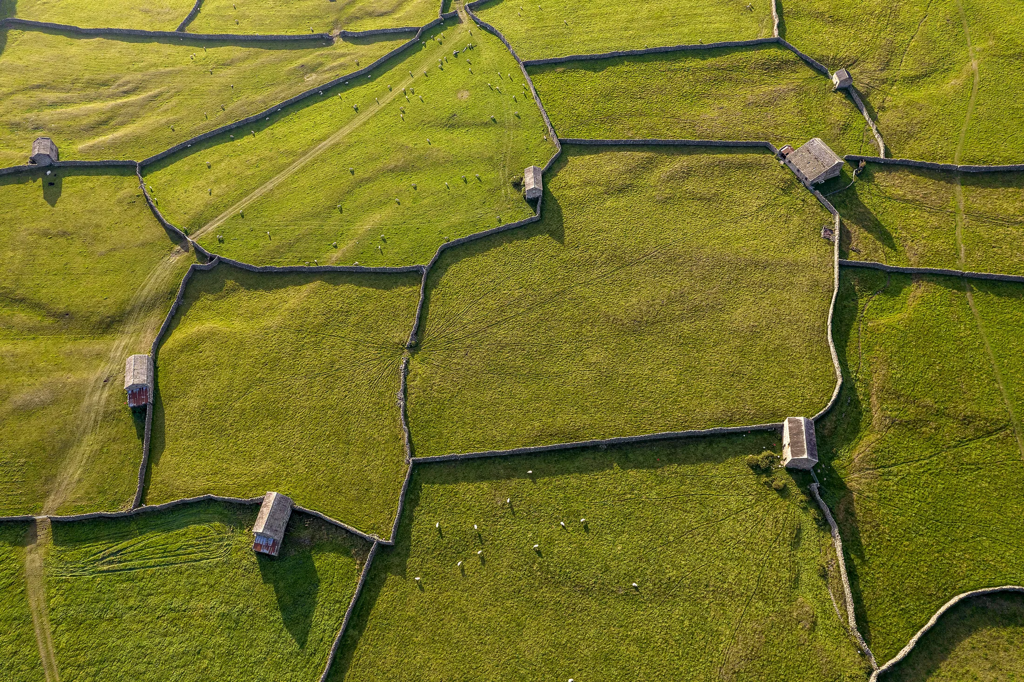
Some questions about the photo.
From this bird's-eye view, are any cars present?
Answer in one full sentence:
No, I find no car anywhere in the image.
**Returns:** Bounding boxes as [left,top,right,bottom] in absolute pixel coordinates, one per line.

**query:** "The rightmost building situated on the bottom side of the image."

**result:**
[782,415,819,470]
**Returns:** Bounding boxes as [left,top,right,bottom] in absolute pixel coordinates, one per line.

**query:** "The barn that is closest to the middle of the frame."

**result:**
[524,165,543,198]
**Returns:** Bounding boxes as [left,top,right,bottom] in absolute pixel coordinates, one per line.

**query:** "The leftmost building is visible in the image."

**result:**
[31,136,57,164]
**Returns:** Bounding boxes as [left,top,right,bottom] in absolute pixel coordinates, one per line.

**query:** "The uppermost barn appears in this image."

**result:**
[833,68,853,89]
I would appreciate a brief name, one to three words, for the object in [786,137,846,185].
barn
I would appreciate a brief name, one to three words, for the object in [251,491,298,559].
barn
